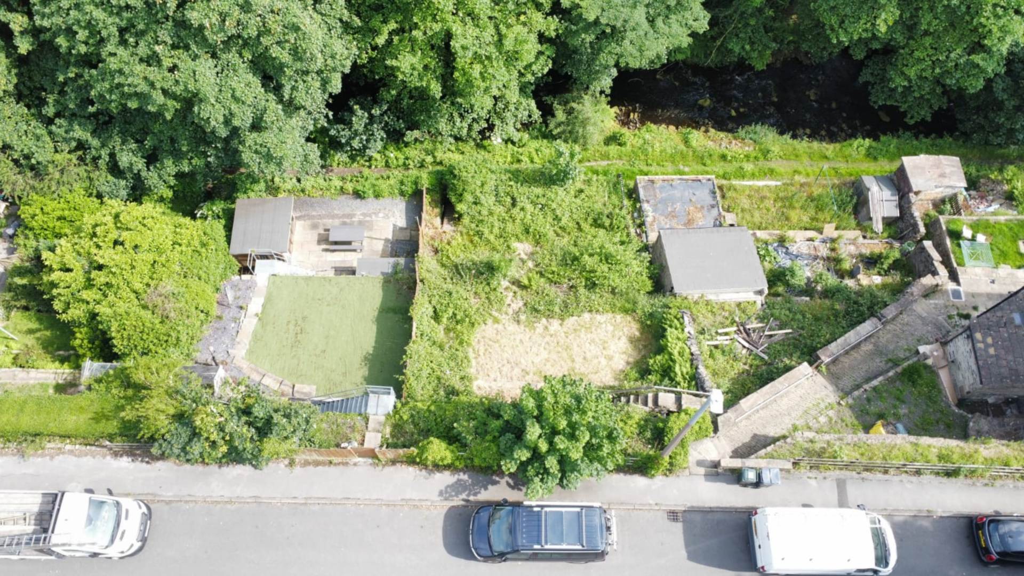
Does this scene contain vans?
Yes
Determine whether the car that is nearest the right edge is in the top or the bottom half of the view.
bottom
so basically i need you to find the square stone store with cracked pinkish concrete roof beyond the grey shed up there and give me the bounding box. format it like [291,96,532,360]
[888,154,967,212]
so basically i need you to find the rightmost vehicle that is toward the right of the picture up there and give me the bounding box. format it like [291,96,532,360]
[972,513,1024,565]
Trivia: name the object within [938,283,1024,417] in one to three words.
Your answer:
house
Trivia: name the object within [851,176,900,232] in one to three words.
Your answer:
shed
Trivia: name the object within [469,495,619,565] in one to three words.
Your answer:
van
